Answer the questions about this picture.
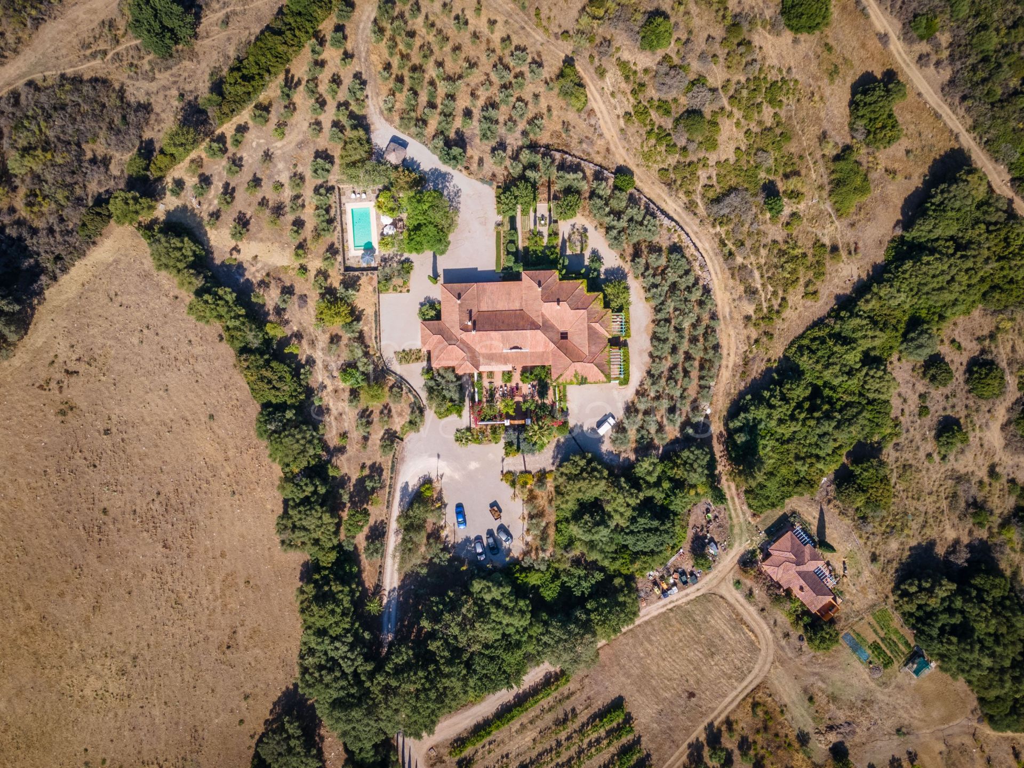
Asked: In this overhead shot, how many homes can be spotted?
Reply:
2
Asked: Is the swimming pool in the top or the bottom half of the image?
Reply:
top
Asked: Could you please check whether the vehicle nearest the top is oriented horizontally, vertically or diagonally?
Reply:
diagonally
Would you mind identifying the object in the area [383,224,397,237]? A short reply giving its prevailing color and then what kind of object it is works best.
white umbrella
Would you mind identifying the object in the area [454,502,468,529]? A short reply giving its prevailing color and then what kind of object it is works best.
blue car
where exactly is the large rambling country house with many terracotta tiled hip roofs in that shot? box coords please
[420,270,612,383]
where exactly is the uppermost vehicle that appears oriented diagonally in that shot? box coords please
[595,414,617,437]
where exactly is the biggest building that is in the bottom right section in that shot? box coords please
[762,530,842,622]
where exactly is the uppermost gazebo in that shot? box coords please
[385,143,408,167]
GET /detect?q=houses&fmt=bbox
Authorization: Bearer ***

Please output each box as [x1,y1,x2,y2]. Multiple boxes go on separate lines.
[420,270,612,383]
[762,530,842,622]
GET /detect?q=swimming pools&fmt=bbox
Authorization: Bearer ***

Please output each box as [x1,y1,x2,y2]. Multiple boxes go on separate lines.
[346,202,378,256]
